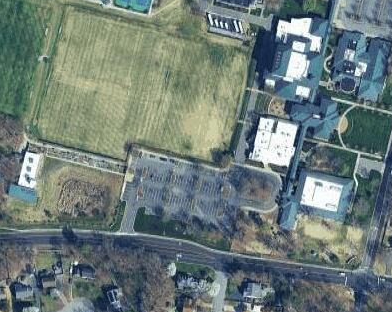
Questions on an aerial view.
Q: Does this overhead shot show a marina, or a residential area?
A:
residential area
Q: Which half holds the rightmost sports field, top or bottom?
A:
top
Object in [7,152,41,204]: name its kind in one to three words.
building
